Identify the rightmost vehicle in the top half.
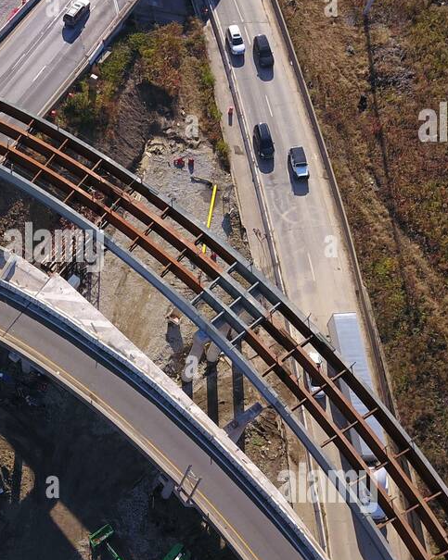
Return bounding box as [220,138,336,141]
[288,145,308,176]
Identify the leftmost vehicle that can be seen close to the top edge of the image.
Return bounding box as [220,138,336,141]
[62,0,92,24]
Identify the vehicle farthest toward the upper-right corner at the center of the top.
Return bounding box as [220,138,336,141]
[254,32,275,65]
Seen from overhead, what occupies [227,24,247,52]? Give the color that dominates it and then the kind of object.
white car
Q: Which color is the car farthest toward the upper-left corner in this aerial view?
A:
white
